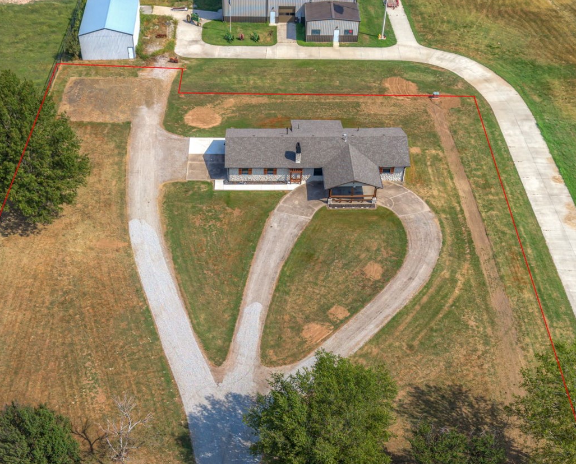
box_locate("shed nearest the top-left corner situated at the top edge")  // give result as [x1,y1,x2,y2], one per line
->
[78,0,138,62]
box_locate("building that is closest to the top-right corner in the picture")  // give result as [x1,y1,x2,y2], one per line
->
[303,0,361,42]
